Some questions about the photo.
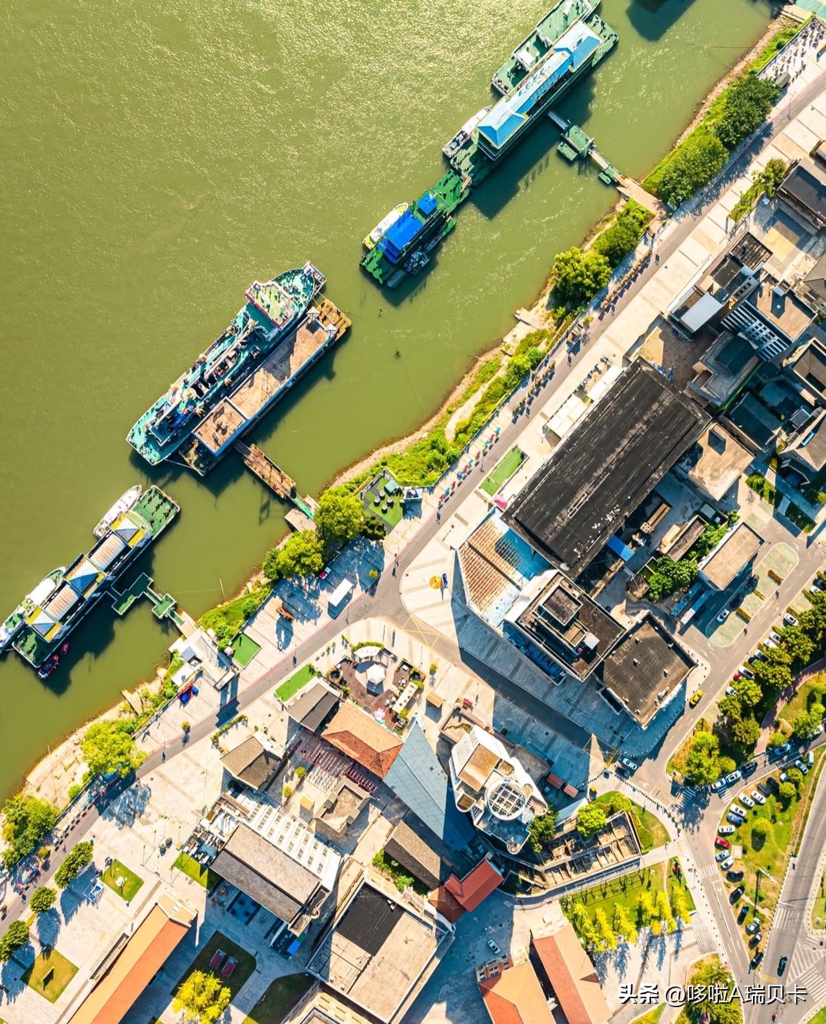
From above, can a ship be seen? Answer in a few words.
Yes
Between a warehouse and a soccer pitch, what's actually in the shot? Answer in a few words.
warehouse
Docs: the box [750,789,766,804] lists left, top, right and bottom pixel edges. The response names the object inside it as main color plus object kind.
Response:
white car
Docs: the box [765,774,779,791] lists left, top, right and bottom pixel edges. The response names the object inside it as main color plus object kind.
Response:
black car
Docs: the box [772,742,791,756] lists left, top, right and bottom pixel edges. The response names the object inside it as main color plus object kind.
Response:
blue car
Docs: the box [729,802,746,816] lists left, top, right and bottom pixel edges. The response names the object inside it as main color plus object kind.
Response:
white car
